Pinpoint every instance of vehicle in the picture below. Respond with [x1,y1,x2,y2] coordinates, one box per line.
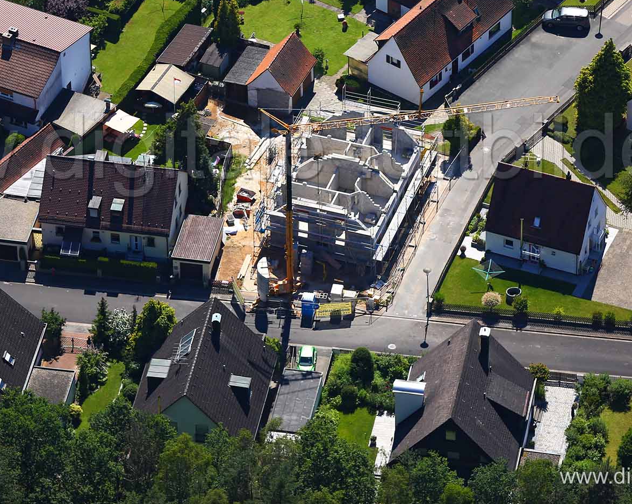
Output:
[541,9,591,32]
[292,338,320,370]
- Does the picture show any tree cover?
Yes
